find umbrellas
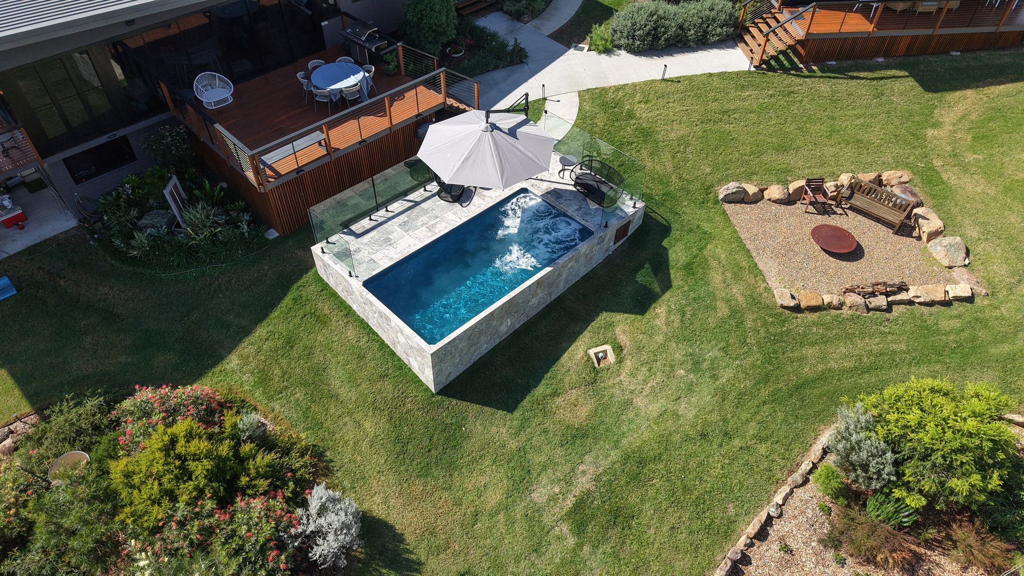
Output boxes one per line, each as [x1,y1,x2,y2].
[416,91,557,193]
